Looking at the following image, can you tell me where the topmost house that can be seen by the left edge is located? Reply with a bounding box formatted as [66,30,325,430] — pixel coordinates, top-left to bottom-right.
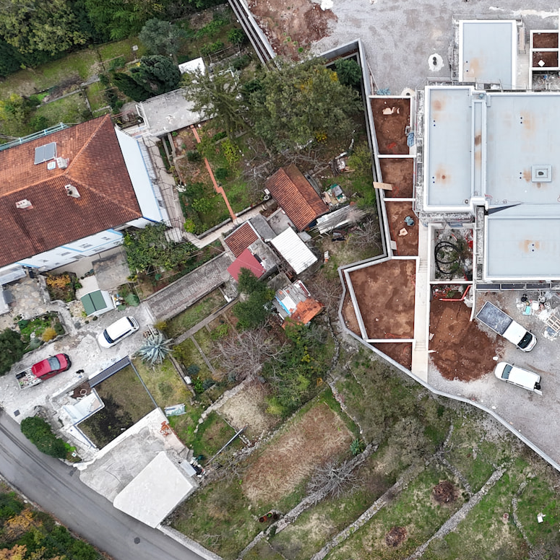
[0,114,175,280]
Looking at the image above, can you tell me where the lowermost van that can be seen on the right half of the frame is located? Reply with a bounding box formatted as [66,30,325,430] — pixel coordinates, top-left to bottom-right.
[493,362,545,396]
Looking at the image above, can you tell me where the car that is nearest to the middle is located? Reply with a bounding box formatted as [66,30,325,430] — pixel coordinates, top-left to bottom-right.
[98,313,142,349]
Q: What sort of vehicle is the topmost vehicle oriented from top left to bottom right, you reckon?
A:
truck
